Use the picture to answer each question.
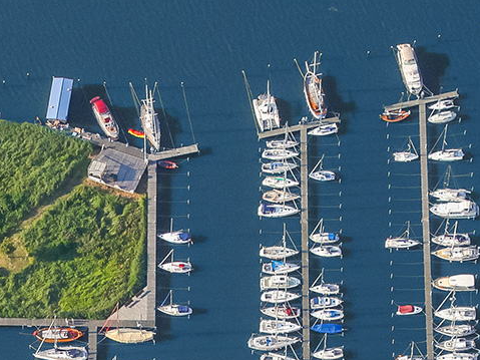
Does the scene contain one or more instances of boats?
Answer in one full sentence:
Yes, the picture does show a boat.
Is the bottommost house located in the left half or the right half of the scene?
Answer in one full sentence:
The bottommost house is on the left side of the image.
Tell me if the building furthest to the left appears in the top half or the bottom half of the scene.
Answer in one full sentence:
Seen from above, the building furthest to the left lies in the top half of the view.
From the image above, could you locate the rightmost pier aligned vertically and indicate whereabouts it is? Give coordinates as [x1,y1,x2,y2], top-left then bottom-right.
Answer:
[383,91,459,360]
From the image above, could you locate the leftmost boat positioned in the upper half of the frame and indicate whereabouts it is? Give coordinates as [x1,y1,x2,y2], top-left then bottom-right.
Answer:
[90,94,115,138]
